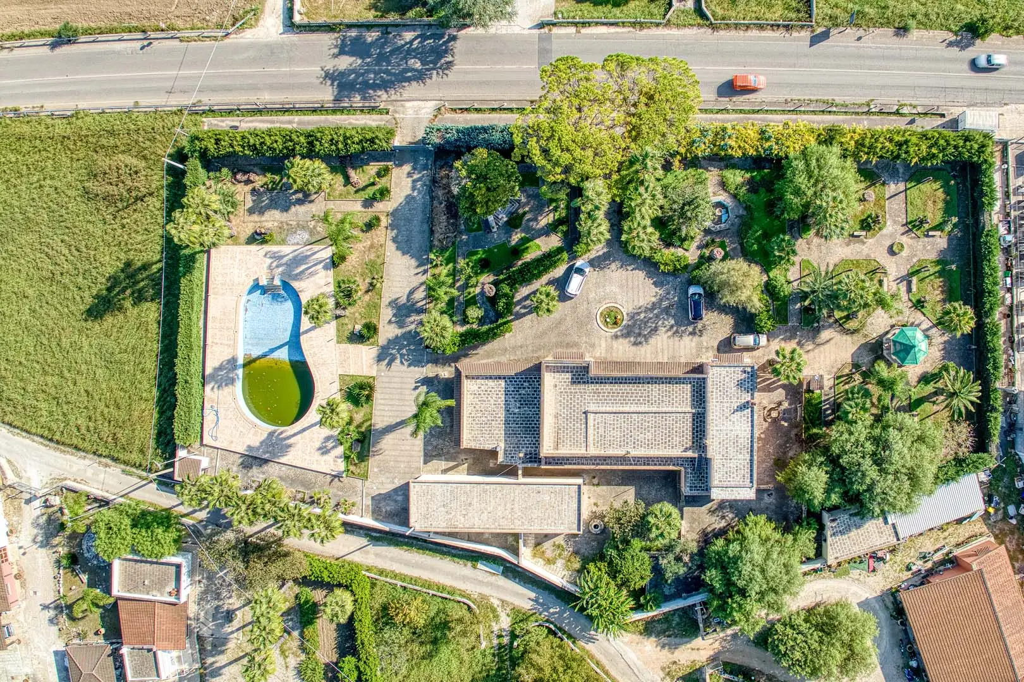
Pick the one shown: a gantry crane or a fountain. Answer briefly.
fountain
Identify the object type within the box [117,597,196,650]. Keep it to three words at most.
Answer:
house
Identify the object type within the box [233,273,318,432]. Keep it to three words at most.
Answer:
swimming pool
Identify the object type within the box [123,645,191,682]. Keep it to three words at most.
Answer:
house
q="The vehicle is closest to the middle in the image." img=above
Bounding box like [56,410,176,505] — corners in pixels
[565,261,588,297]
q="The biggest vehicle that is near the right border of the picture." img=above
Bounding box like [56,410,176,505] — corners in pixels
[969,53,1006,71]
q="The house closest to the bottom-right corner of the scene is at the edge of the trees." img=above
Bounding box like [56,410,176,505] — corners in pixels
[896,539,1024,682]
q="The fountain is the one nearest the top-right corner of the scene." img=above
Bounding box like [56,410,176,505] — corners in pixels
[706,198,737,228]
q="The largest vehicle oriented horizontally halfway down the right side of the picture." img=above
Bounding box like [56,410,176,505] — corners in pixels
[730,333,765,349]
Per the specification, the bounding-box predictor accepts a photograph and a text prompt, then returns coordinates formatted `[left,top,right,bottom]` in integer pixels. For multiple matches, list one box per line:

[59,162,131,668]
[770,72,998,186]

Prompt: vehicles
[969,53,1006,71]
[686,285,705,320]
[565,261,588,297]
[730,333,765,349]
[730,73,764,94]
